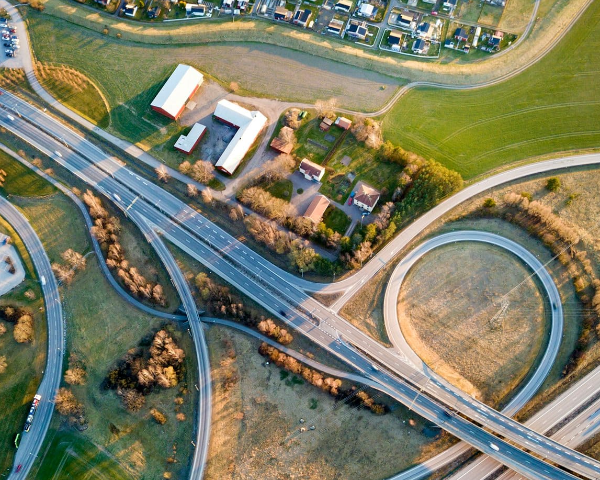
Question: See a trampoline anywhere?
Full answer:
No, no trampoline is visible in the view.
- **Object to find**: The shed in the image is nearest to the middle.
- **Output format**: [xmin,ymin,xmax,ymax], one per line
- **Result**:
[304,194,329,220]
